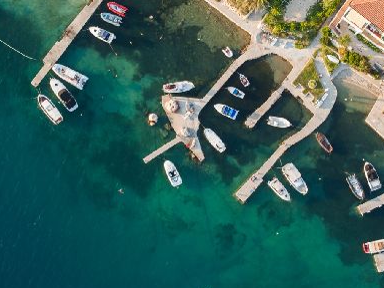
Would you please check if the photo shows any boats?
Yes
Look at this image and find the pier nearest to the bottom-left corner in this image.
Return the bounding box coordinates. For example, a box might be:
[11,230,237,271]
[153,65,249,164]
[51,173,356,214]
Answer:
[142,136,182,165]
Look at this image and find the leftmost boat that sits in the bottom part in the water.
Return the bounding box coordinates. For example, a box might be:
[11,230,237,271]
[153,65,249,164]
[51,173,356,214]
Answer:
[162,157,183,190]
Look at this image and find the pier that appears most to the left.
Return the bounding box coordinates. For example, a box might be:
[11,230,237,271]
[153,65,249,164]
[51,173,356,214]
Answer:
[31,0,105,88]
